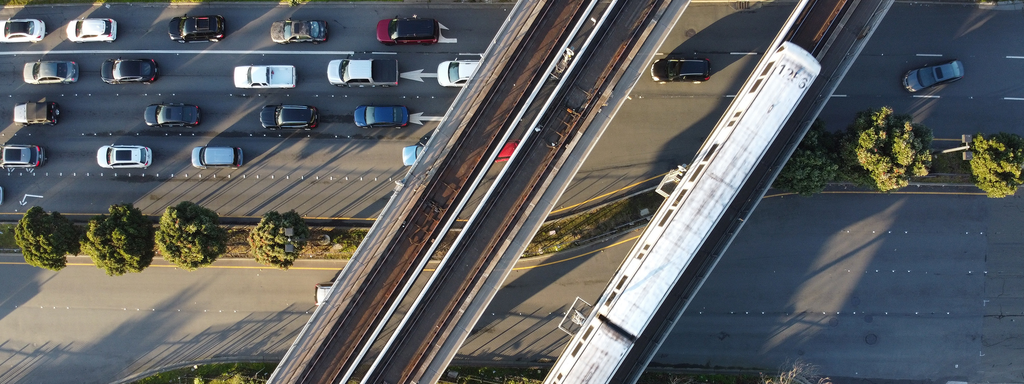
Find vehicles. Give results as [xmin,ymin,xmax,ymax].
[650,56,712,84]
[144,101,202,128]
[66,16,119,43]
[101,57,161,84]
[271,17,329,45]
[14,99,63,126]
[377,16,440,45]
[168,13,227,42]
[192,143,244,170]
[97,142,154,170]
[0,142,47,169]
[402,142,423,166]
[327,57,401,86]
[260,102,320,130]
[234,62,298,89]
[354,102,410,129]
[902,60,965,94]
[437,58,478,86]
[24,58,81,85]
[0,16,49,43]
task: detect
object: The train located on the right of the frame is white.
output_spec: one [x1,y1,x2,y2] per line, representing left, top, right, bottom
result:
[549,43,819,384]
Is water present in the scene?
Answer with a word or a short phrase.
No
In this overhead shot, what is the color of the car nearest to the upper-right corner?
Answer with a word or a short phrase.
blue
